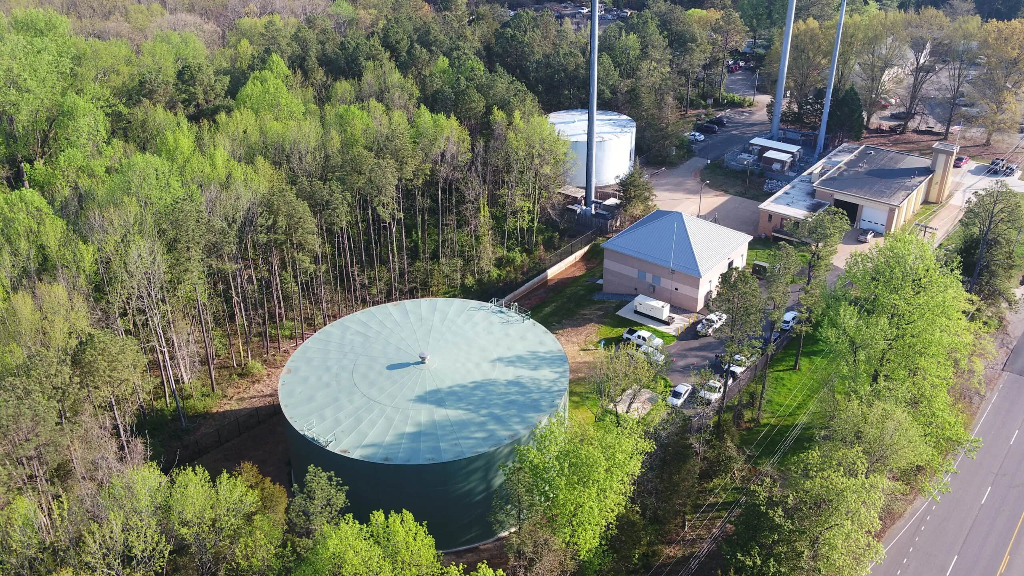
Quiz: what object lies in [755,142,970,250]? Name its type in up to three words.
building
